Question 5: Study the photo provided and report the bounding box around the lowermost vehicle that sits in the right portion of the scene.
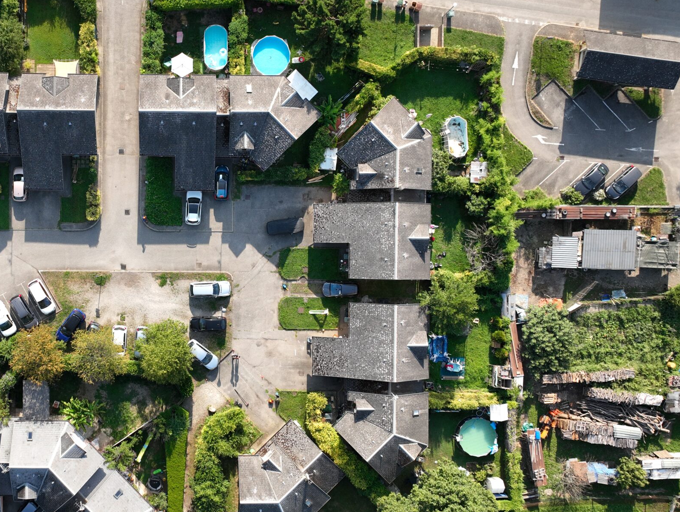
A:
[530,403,560,437]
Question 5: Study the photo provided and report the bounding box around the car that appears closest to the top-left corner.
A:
[9,168,29,201]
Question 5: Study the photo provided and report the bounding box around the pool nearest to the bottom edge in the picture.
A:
[448,414,497,456]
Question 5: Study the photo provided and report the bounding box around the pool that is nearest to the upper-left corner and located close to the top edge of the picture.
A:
[203,25,228,74]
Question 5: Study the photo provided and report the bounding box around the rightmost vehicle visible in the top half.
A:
[603,162,644,202]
